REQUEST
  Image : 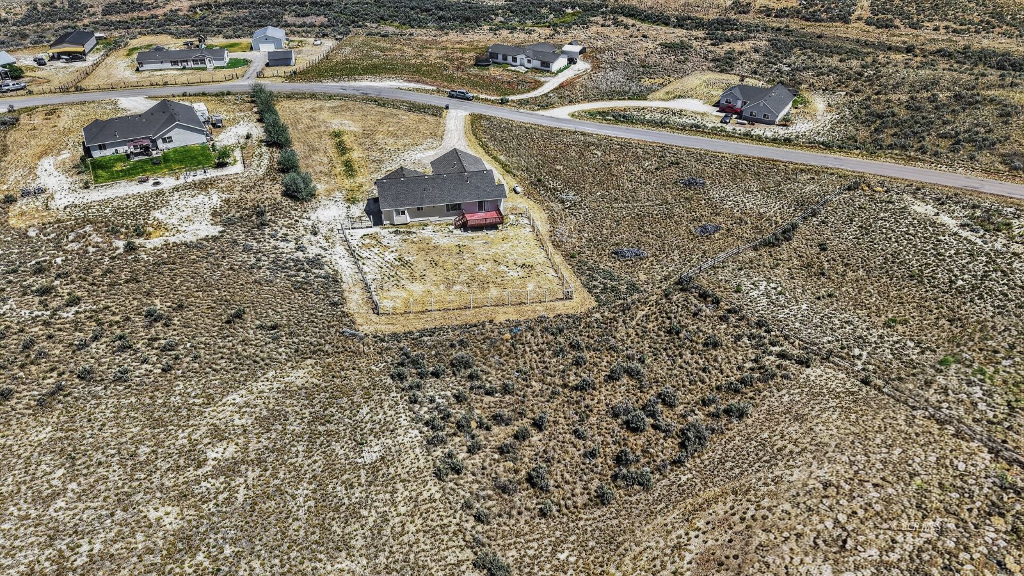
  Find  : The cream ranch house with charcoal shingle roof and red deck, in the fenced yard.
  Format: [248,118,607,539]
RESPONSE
[373,147,508,225]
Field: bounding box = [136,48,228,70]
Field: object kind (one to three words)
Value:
house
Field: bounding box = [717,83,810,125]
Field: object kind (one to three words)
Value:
house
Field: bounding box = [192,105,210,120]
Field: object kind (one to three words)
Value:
vehicle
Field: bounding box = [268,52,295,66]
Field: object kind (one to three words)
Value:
shed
